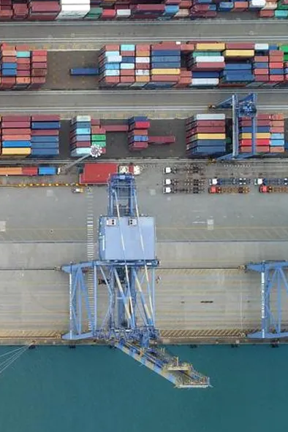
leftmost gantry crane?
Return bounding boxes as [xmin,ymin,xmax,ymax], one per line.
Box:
[56,174,208,389]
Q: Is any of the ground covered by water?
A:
Yes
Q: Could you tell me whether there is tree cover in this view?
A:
No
